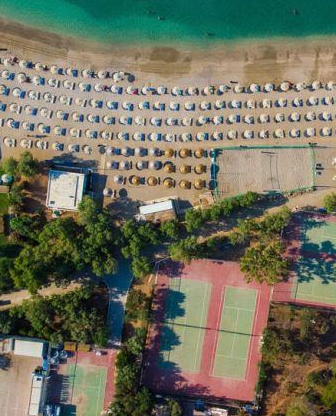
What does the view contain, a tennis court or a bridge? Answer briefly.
tennis court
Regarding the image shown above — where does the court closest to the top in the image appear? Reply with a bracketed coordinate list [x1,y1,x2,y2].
[216,147,314,202]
